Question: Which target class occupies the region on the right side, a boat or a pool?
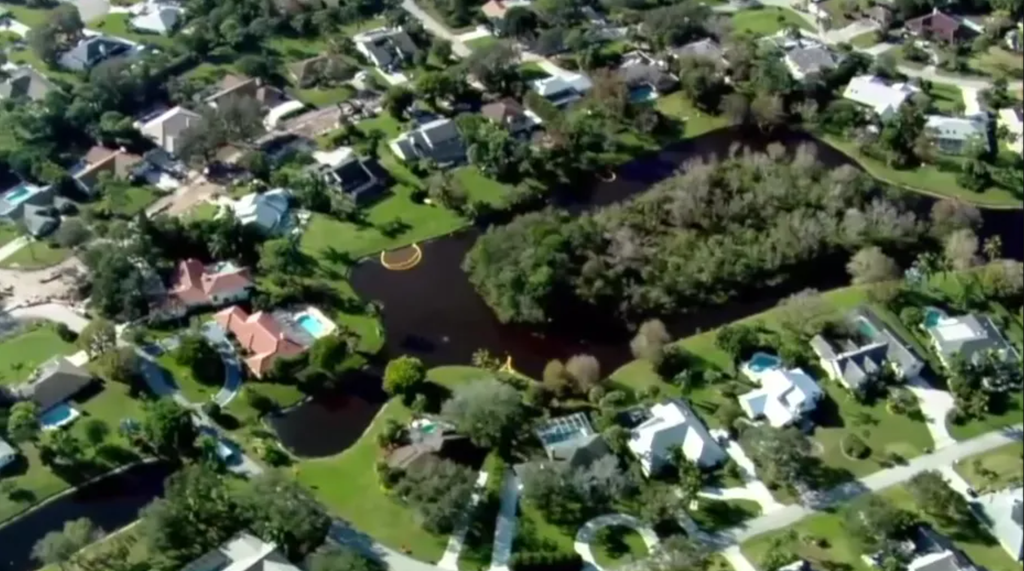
pool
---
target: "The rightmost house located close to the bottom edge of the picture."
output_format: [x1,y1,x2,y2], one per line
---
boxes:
[976,483,1024,565]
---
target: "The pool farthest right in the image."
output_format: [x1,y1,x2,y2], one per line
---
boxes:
[921,305,957,330]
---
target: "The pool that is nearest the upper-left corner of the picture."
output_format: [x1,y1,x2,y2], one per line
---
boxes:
[0,184,44,214]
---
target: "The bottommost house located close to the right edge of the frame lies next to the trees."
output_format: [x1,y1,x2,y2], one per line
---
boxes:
[895,525,980,571]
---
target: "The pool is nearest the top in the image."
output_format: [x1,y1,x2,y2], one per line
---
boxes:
[626,87,660,104]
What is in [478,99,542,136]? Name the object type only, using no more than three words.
house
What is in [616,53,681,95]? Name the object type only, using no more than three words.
house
